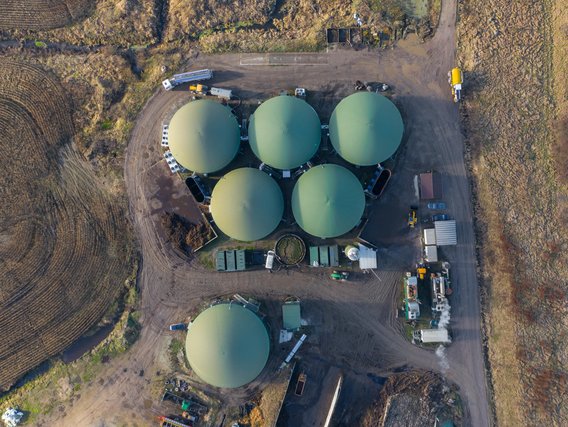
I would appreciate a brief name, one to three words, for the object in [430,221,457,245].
shed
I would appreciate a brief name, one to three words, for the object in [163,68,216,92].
truck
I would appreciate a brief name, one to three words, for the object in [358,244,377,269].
shed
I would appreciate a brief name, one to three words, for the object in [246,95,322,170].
storage tank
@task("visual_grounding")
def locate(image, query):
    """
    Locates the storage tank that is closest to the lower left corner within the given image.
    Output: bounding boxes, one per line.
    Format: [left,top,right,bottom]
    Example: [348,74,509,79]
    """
[186,300,270,388]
